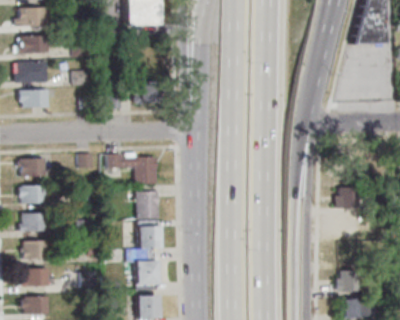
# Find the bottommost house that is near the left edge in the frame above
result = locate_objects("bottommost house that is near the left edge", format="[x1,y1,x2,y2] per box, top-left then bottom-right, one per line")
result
[18,296,50,316]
